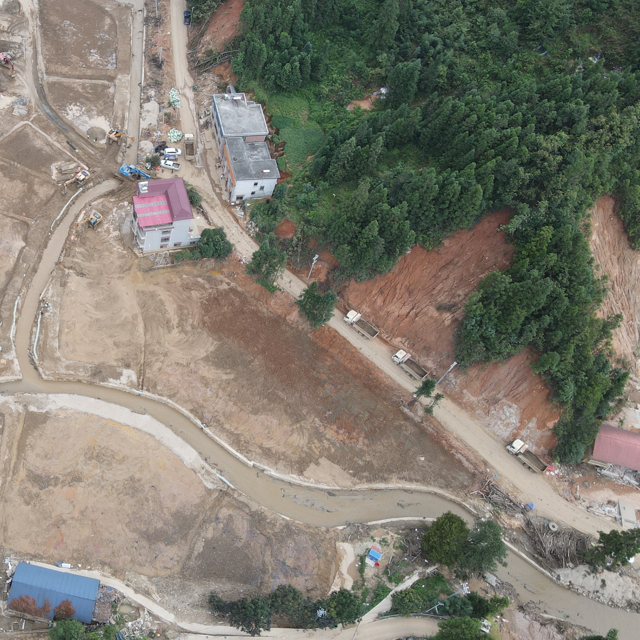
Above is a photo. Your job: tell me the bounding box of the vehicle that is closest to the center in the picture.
[342,303,386,337]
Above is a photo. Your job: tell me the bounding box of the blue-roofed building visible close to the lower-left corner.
[10,562,117,627]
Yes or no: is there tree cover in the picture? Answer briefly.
Yes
